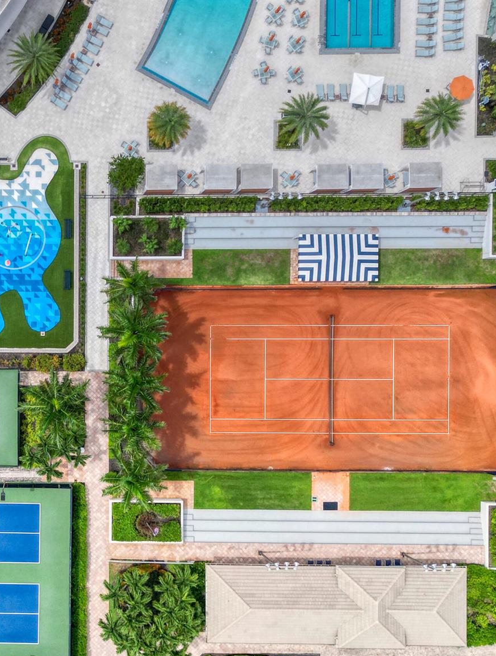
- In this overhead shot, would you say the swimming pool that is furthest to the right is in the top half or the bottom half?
top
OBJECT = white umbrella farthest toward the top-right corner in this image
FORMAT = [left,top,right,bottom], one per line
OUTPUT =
[350,72,384,118]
